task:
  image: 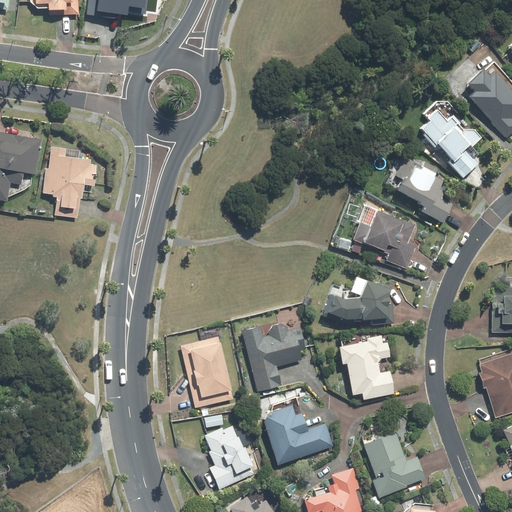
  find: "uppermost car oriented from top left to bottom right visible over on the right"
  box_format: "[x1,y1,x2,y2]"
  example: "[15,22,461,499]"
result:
[446,215,462,230]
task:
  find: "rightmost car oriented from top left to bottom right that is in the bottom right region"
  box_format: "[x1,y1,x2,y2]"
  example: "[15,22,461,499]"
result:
[474,406,490,422]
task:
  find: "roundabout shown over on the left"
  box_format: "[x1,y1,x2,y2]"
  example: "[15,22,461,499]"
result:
[149,68,200,122]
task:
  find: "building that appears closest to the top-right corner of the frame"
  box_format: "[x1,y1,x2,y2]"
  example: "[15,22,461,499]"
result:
[464,61,512,139]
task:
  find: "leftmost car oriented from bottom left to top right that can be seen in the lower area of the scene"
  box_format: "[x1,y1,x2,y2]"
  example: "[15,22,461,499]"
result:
[176,379,189,395]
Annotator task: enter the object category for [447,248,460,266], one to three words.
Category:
vehicle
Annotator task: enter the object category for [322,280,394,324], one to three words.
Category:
house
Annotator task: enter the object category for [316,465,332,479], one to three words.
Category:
car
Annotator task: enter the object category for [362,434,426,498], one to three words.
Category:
house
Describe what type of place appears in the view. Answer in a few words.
residential area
